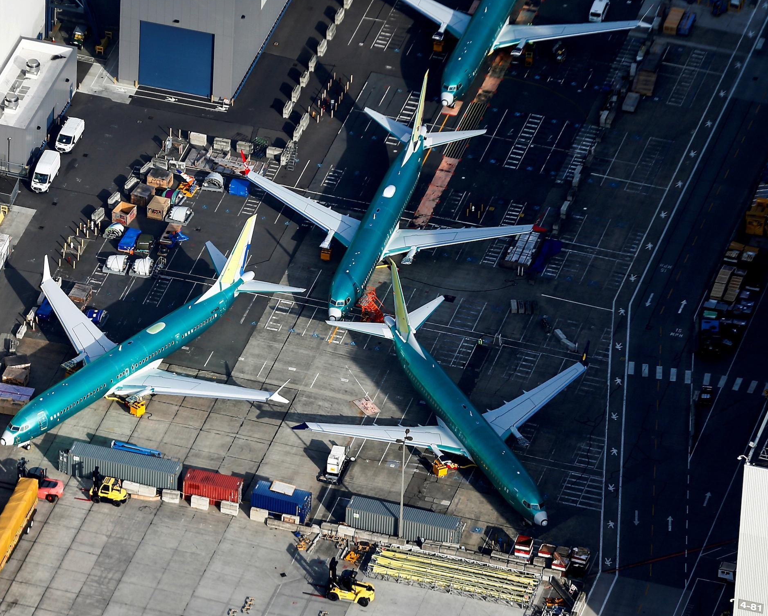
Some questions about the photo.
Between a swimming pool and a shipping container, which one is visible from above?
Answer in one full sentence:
There is a shipping container in the scene.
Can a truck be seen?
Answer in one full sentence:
Yes, there is a truck in the image.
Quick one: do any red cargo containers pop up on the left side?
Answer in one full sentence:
Yes, a red cargo container shows up on the left side.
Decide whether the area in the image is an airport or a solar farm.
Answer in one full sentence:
It's an airport.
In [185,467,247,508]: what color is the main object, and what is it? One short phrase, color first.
red shipping container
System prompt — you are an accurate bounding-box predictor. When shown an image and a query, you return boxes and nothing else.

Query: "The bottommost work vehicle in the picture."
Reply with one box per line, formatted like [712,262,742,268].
[302,551,380,610]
